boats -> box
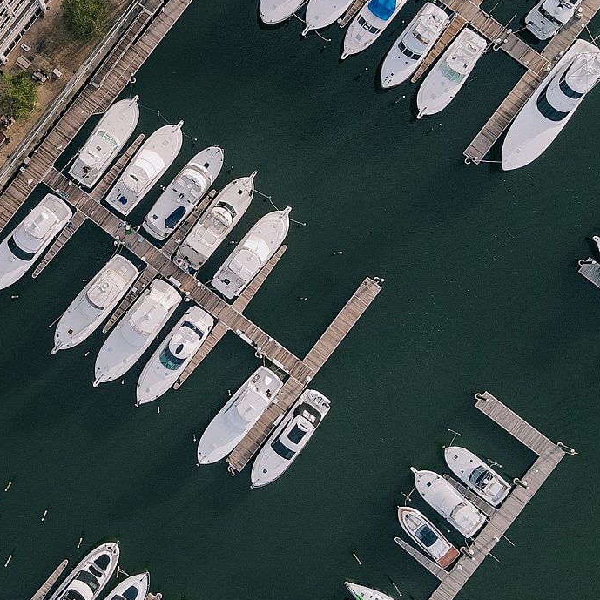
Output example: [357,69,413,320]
[443,445,510,505]
[135,307,212,406]
[173,171,261,274]
[249,388,326,490]
[93,276,182,388]
[410,467,486,536]
[68,94,140,189]
[49,542,121,600]
[104,570,150,600]
[210,207,295,301]
[196,361,287,468]
[519,0,586,44]
[302,0,354,35]
[395,505,460,568]
[105,121,186,218]
[501,14,600,169]
[0,189,76,290]
[140,145,226,243]
[342,0,405,58]
[380,1,469,88]
[418,8,520,118]
[51,252,140,354]
[342,579,398,600]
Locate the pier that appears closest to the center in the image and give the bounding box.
[33,133,381,470]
